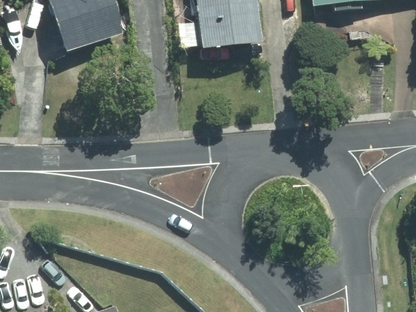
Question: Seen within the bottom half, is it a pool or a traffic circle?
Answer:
traffic circle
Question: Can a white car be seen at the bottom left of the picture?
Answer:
Yes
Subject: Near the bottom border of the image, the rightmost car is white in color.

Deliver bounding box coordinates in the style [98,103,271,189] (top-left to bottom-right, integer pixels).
[66,286,95,312]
